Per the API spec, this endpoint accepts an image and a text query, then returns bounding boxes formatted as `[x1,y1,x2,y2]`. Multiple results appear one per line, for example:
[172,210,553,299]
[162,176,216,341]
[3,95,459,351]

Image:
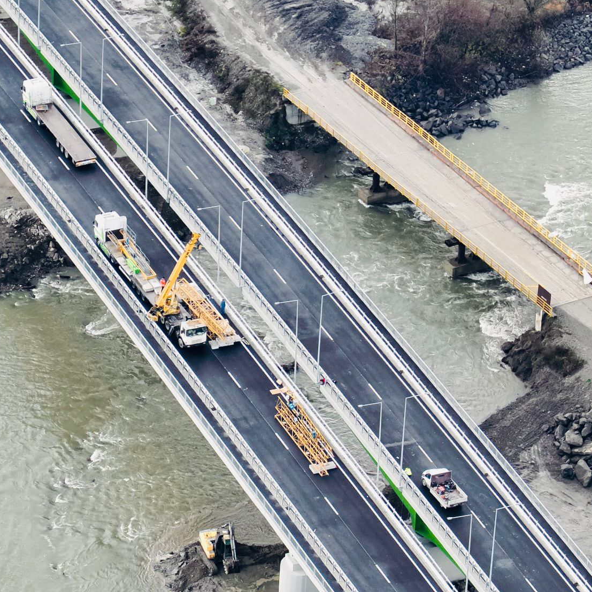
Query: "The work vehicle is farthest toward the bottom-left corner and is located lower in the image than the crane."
[191,526,234,579]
